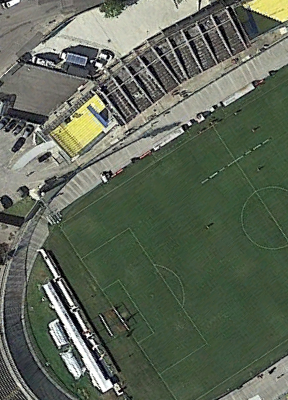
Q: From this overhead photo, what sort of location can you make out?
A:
sports ground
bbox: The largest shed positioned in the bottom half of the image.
[43,283,111,391]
